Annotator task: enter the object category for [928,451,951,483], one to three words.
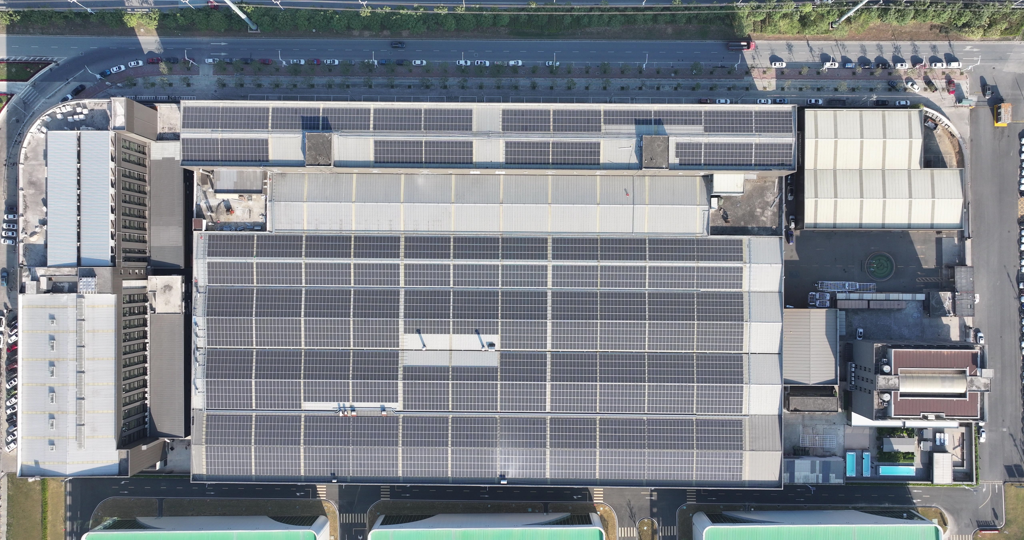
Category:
building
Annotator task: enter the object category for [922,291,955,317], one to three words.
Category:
building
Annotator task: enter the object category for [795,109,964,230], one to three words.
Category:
warehouse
